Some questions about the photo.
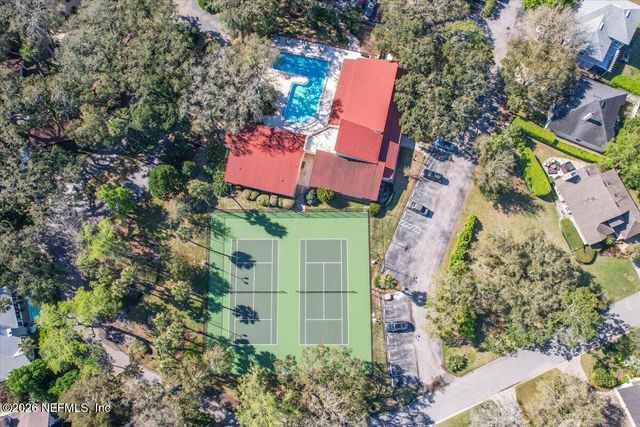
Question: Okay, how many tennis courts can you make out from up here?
two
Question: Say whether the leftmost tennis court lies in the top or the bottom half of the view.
bottom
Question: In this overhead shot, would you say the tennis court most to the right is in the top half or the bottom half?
bottom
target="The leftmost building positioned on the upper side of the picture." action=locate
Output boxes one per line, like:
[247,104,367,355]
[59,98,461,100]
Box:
[225,119,308,197]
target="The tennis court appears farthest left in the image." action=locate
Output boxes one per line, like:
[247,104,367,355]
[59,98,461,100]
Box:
[206,212,289,376]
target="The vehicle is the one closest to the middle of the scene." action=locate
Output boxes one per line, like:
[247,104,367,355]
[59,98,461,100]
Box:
[409,199,434,216]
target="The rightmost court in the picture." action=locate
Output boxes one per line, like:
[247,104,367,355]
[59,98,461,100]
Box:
[288,212,371,376]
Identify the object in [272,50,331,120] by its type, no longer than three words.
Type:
swimming pool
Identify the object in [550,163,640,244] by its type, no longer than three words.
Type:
house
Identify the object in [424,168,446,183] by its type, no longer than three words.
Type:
car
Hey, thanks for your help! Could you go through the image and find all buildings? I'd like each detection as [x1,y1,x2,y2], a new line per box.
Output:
[544,78,628,153]
[564,0,640,81]
[609,375,640,427]
[225,119,308,197]
[0,289,38,381]
[550,163,640,244]
[0,408,56,427]
[310,59,411,201]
